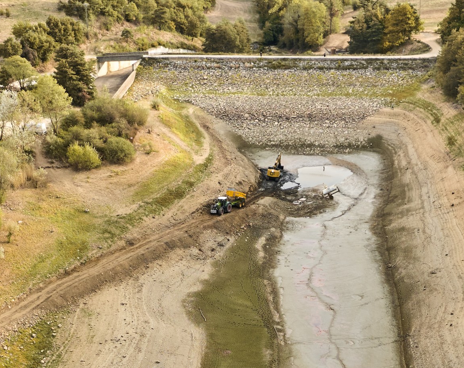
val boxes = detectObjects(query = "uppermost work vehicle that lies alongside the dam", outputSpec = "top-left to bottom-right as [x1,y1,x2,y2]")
[267,148,285,182]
